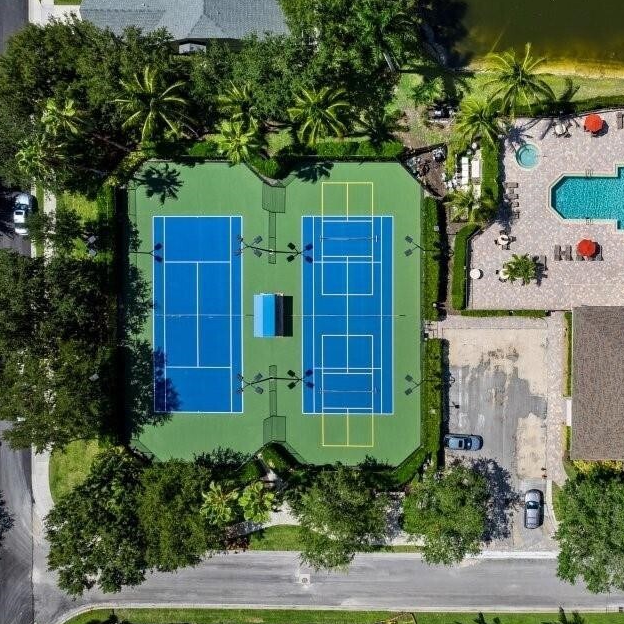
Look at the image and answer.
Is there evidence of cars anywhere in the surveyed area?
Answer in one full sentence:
Yes, a car appears in the view.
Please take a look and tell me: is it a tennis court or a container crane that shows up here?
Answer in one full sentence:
This aerial view contains a tennis court.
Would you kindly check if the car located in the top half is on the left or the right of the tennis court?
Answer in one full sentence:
From the viewer's perspective, the car located in the top half falls to the left of the tennis court.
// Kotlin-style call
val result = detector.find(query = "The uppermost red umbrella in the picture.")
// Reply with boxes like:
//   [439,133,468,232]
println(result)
[585,115,603,133]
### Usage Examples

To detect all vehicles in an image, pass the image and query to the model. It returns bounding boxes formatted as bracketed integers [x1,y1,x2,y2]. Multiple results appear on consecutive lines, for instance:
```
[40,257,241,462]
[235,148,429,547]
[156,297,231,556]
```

[444,433,483,451]
[524,487,543,528]
[14,194,36,235]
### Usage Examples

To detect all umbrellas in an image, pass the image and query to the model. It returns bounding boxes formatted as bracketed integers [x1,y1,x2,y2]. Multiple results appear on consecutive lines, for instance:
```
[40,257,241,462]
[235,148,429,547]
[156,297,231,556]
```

[578,239,596,257]
[585,115,603,133]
